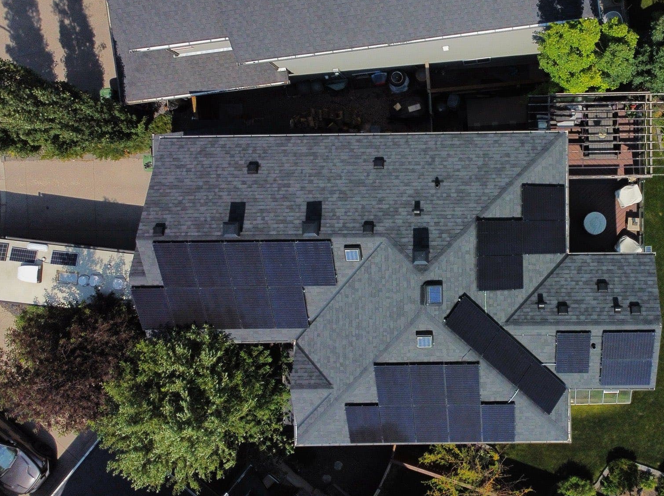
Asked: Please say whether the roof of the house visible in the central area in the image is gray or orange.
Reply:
gray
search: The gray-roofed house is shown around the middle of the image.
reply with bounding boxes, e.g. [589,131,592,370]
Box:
[128,128,662,449]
